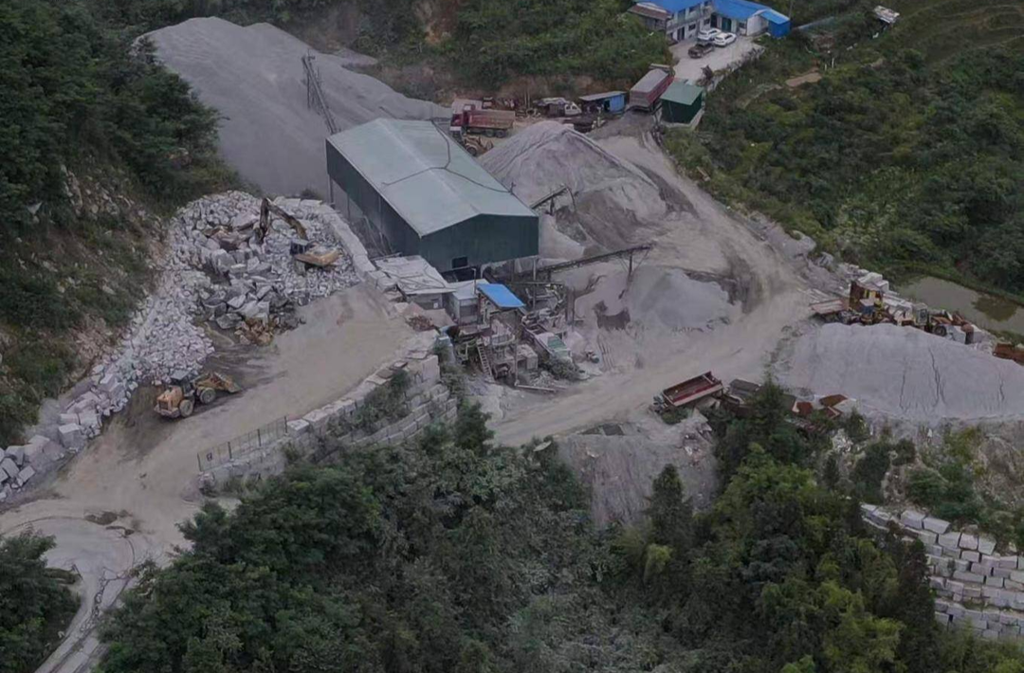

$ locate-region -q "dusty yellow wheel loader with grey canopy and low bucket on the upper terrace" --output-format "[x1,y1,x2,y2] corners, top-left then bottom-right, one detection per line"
[162,362,248,415]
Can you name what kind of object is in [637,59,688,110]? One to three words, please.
truck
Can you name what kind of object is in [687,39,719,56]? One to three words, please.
vehicle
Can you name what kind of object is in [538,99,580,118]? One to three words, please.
vehicle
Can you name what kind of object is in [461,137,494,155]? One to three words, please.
work vehicle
